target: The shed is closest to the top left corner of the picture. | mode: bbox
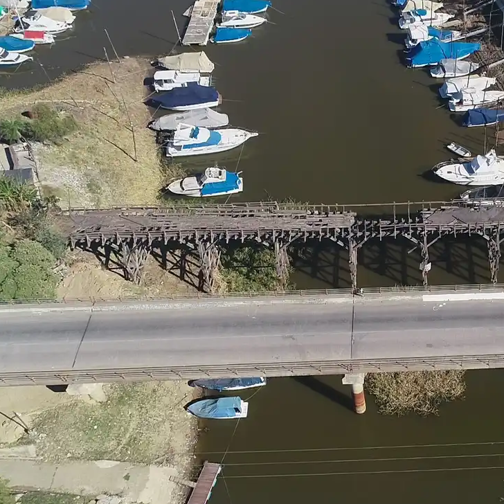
[6,142,38,176]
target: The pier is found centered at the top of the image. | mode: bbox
[186,0,218,47]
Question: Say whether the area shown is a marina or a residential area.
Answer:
marina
